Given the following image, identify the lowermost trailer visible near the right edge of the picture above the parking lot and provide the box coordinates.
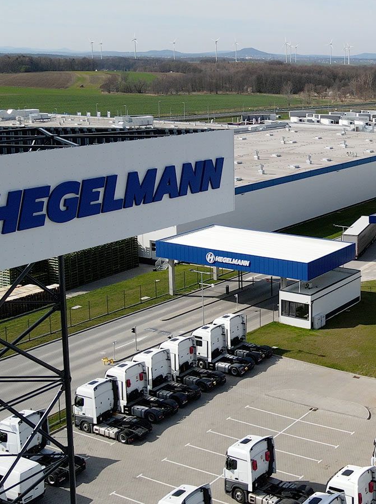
[343,214,376,259]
